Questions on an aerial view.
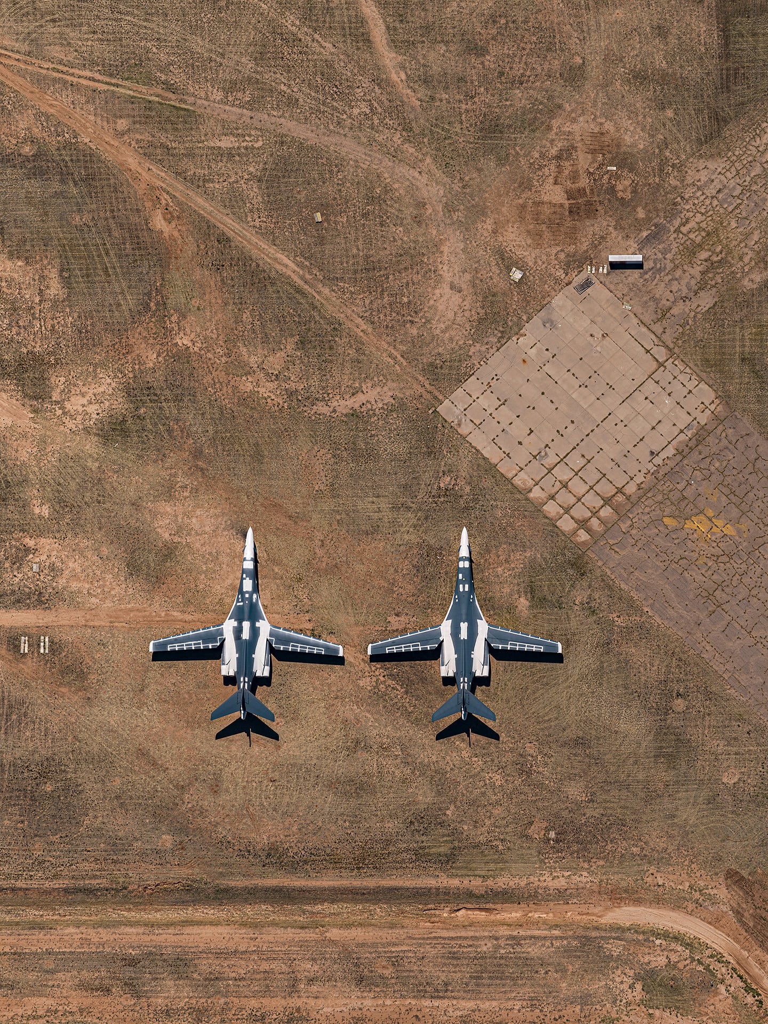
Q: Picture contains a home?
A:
No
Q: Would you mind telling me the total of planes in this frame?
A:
2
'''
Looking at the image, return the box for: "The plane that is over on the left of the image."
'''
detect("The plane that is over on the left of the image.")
[149,527,344,723]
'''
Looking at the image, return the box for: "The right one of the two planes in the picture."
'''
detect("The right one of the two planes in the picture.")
[368,527,563,722]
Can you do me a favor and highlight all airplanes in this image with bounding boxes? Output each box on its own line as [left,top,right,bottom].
[368,527,563,722]
[149,527,344,723]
